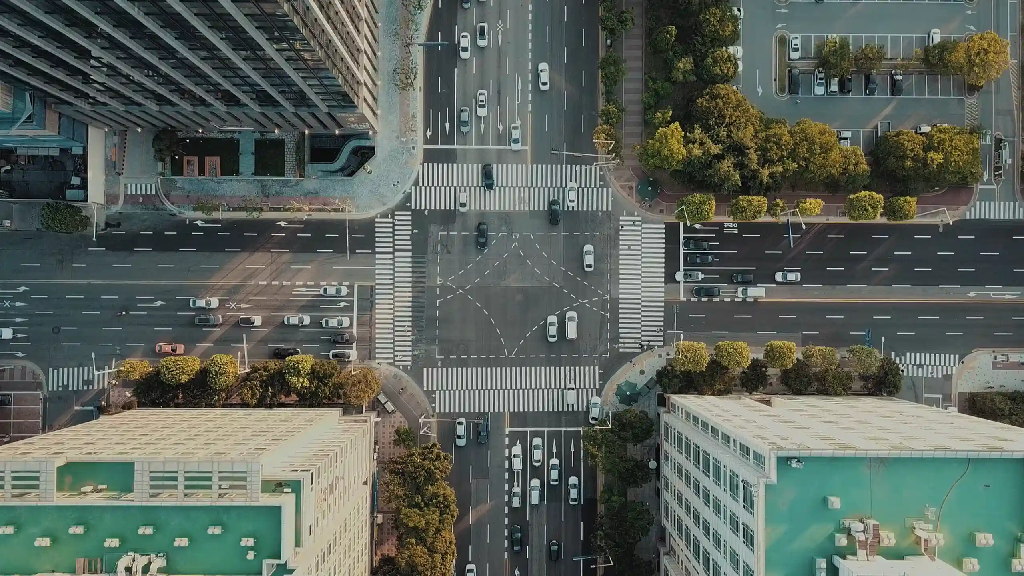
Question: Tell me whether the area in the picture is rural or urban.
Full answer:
This place is urban.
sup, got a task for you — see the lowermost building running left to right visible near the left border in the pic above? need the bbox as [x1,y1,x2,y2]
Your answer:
[0,408,375,576]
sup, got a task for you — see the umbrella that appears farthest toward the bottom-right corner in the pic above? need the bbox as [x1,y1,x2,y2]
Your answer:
[615,380,639,405]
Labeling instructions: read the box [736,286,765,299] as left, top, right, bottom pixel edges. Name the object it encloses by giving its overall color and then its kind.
white vehicle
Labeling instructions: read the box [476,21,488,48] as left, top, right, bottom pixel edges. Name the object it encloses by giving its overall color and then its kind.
white vehicle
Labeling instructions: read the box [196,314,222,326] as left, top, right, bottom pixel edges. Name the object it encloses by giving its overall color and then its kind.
gray vehicle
